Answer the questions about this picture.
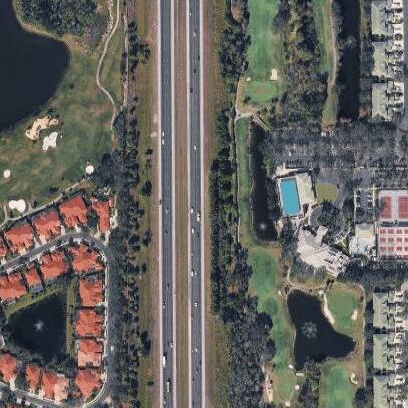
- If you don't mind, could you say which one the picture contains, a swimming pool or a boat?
swimming pool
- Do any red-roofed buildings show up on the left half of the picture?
Yes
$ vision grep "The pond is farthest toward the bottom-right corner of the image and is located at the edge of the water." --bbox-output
[288,289,354,370]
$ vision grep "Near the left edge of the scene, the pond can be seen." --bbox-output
[6,292,65,362]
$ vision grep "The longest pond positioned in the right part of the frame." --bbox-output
[250,119,281,242]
